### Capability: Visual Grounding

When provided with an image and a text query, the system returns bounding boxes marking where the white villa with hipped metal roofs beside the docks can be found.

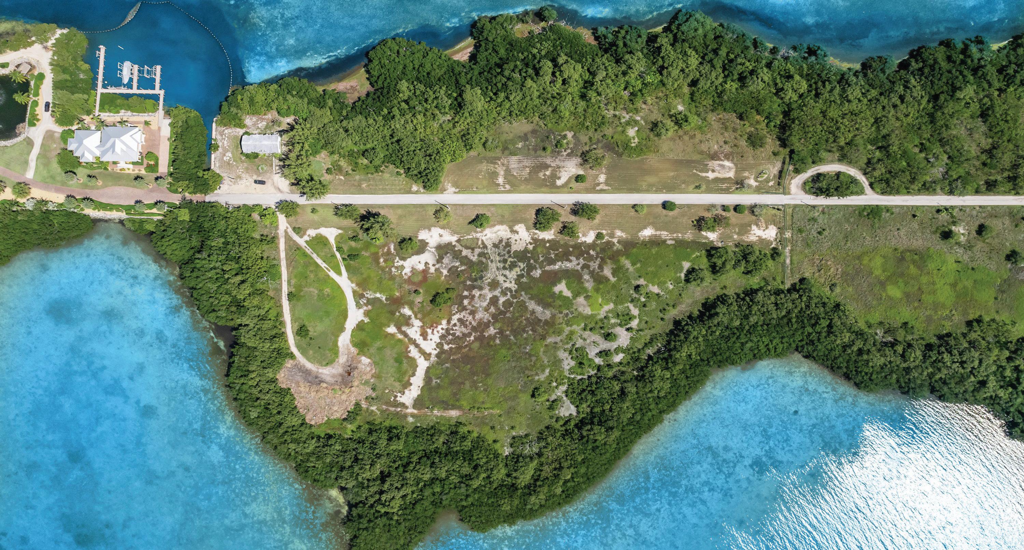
[68,123,145,169]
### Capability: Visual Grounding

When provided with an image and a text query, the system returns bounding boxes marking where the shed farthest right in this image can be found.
[241,134,281,153]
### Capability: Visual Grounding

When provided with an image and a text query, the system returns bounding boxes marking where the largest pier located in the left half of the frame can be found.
[95,45,167,127]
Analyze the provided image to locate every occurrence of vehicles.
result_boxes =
[254,180,266,185]
[44,101,51,112]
